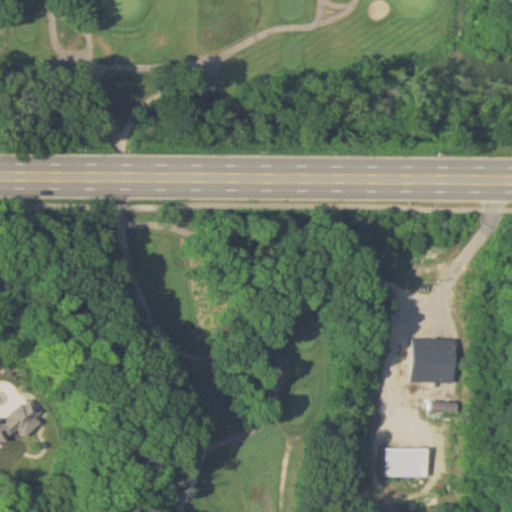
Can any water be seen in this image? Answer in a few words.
No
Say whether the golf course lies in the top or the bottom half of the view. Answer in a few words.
top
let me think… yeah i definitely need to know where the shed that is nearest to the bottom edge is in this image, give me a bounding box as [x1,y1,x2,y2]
[383,448,430,478]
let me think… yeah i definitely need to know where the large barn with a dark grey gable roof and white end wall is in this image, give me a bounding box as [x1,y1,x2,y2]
[409,339,458,384]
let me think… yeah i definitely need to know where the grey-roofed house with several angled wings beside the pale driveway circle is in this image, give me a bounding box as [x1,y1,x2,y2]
[0,402,42,450]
